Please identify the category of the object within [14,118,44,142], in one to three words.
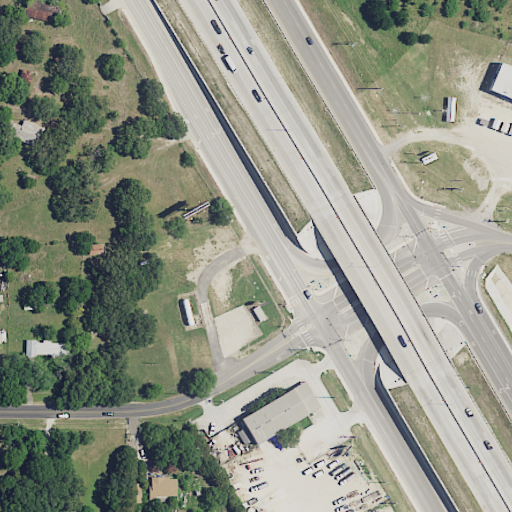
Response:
house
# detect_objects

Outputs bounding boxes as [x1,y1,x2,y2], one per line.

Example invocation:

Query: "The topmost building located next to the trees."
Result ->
[28,1,57,20]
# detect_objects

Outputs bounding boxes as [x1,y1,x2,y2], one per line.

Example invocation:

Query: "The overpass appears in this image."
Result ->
[310,192,452,386]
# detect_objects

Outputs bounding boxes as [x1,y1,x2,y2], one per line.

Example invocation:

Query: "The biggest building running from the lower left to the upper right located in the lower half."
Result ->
[244,382,320,444]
